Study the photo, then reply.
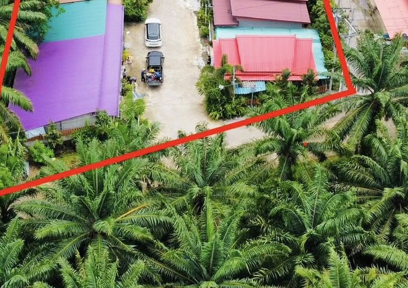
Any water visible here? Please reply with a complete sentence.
No, the picture contains no water.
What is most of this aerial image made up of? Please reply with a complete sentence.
The bulk of the photo consists of trees.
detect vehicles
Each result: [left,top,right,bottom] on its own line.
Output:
[144,21,162,50]
[145,51,166,91]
